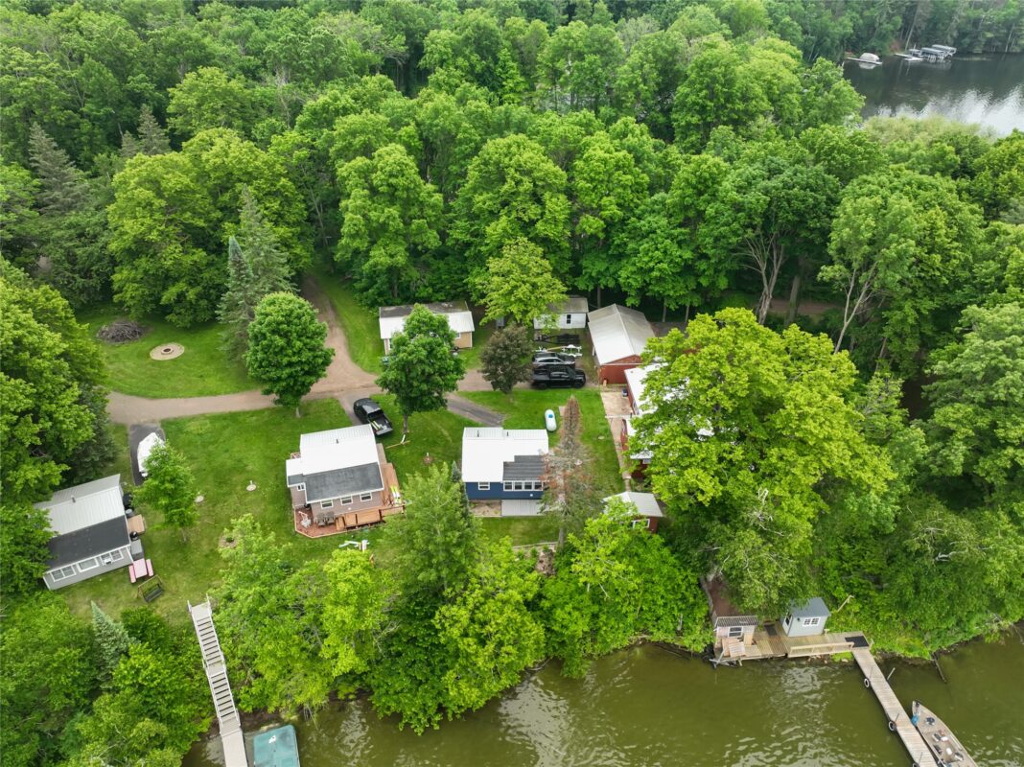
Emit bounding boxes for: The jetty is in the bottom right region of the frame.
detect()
[852,647,938,767]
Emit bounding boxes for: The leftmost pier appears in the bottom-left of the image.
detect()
[220,716,250,767]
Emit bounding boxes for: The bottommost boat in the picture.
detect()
[911,702,972,767]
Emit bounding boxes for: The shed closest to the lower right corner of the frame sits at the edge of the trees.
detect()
[779,590,833,637]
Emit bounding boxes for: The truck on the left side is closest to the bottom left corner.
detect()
[352,394,388,430]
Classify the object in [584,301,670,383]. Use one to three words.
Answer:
building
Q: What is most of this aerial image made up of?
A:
trees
